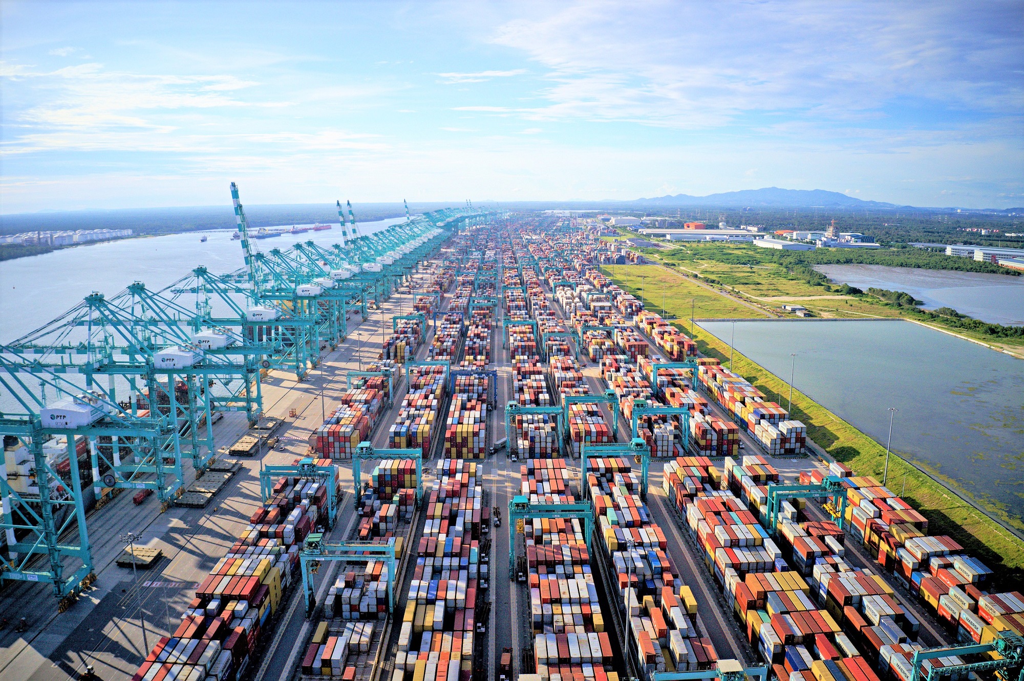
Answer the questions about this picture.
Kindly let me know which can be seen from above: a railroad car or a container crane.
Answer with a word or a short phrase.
container crane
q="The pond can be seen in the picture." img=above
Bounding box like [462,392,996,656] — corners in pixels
[694,321,1024,536]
